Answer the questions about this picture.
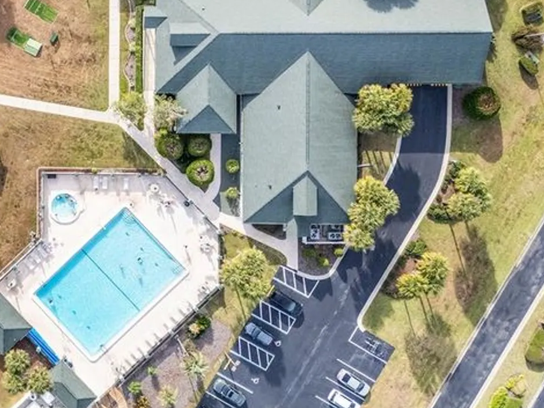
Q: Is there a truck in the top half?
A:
No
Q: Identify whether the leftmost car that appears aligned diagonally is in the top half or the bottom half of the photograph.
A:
bottom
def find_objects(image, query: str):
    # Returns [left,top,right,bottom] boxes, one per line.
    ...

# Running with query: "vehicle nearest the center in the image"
[262,287,306,320]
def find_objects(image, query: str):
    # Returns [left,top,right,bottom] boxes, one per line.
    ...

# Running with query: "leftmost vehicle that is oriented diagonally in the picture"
[210,377,249,408]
